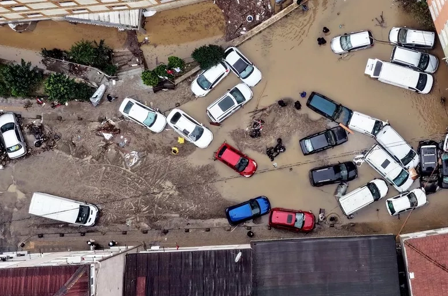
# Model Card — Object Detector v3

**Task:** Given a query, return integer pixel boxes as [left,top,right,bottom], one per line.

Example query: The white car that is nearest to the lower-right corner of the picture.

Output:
[381,186,432,219]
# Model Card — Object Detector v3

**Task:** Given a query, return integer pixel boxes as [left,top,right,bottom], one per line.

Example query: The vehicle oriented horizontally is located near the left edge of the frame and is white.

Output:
[21,192,100,227]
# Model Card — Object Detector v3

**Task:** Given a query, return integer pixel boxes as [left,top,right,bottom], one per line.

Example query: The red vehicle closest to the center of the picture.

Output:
[214,140,258,179]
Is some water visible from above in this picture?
Yes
